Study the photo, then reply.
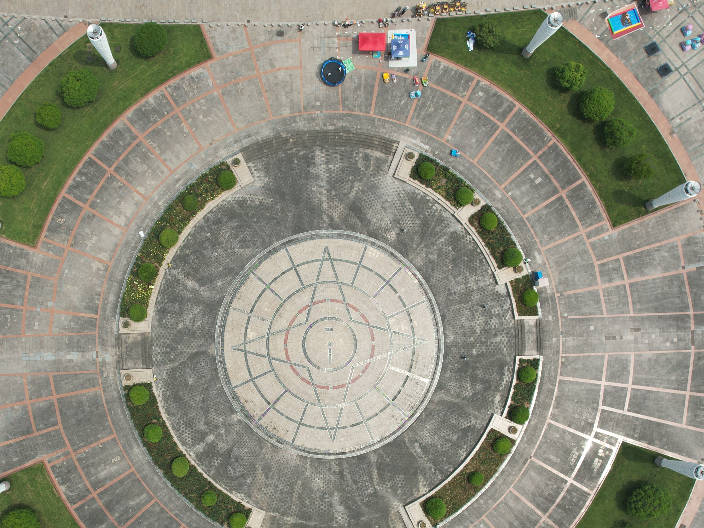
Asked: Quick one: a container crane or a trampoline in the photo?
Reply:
trampoline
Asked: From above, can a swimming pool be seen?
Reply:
Yes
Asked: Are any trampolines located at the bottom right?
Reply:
No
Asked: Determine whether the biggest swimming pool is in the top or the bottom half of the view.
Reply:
top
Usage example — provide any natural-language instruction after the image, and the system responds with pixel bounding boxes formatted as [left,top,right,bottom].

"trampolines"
[321,56,346,84]
[645,41,661,58]
[658,57,673,79]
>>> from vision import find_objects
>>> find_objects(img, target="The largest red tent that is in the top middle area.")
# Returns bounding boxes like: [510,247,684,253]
[358,32,386,57]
